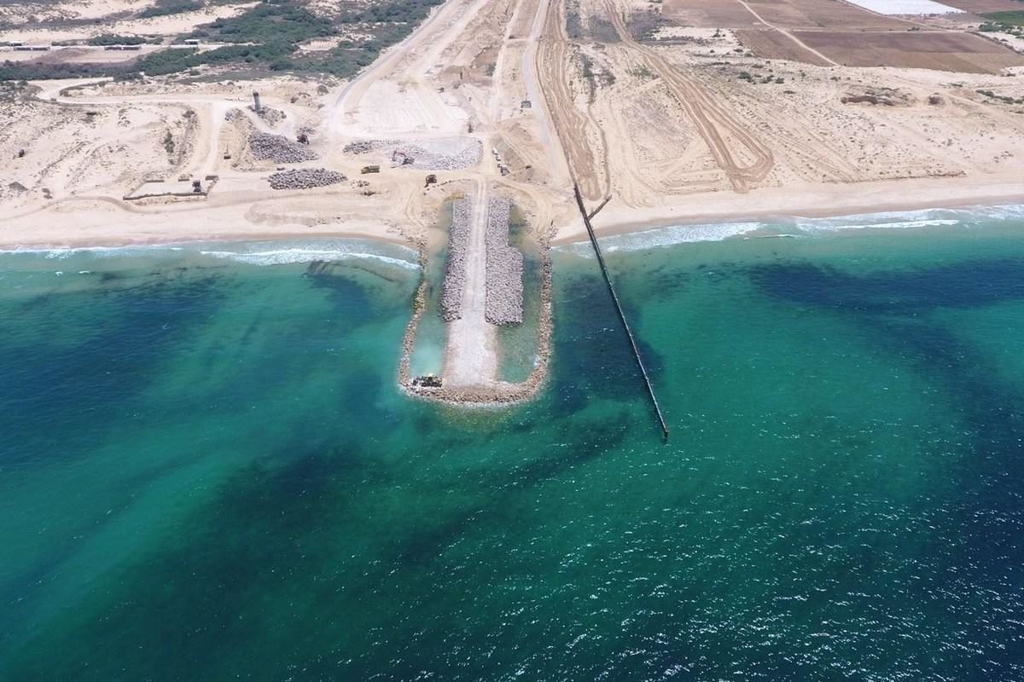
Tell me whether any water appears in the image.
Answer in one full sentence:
Yes, the picture does contain water.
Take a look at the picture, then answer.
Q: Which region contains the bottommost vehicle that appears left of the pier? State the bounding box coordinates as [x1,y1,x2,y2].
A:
[414,375,442,388]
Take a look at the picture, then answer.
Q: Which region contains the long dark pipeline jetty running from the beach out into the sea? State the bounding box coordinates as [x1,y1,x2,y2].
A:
[573,183,670,438]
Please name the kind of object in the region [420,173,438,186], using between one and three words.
vehicle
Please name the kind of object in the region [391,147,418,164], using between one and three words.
work vehicle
